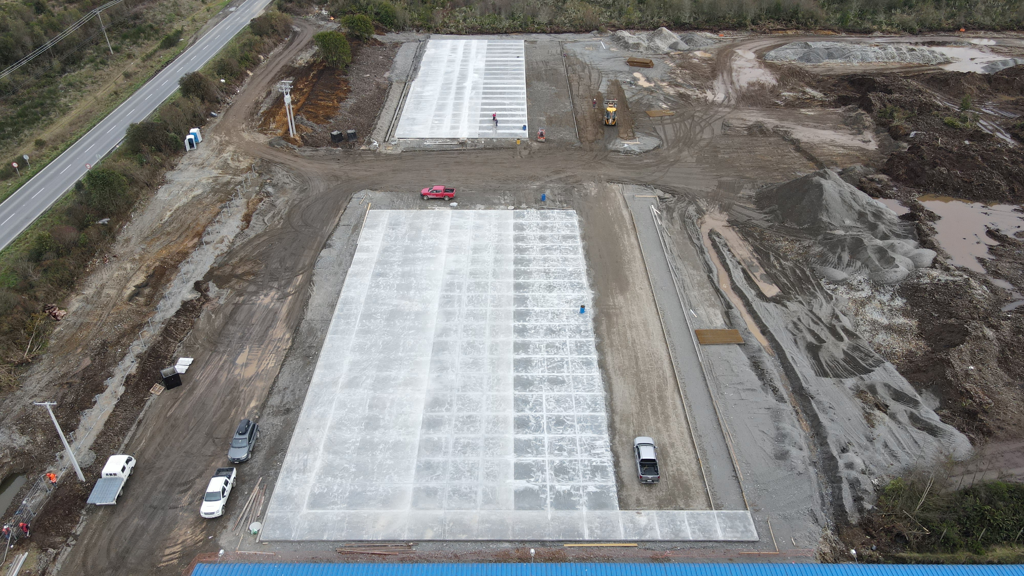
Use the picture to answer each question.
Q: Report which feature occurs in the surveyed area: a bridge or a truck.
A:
truck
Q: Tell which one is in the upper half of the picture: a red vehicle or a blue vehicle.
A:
red vehicle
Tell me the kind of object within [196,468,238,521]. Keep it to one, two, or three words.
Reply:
truck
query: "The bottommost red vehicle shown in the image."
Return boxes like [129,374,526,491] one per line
[419,185,458,201]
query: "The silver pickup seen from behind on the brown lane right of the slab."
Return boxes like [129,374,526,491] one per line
[633,434,663,482]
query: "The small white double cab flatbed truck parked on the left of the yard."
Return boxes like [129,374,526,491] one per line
[89,456,135,509]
